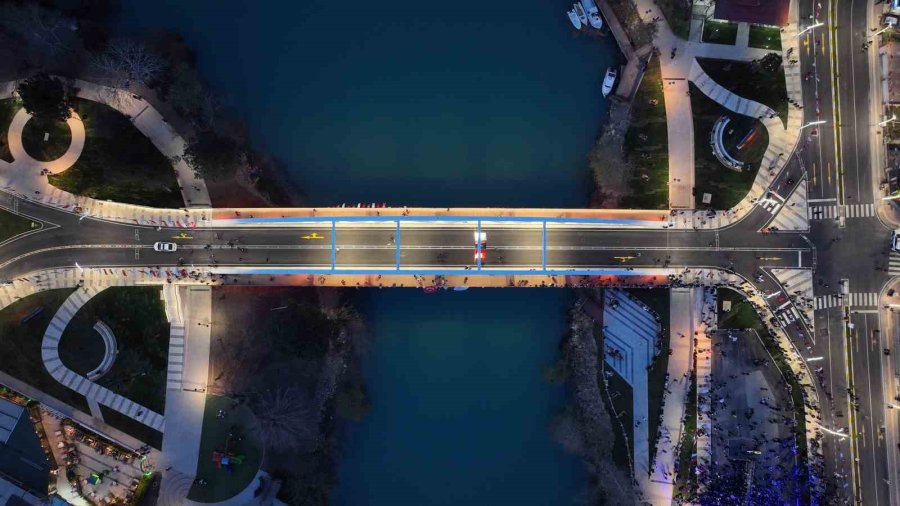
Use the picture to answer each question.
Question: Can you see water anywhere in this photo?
Yes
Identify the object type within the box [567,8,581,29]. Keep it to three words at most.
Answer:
boat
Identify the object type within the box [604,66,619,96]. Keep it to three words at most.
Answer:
boat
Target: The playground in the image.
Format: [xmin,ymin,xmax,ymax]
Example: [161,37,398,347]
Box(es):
[185,394,265,503]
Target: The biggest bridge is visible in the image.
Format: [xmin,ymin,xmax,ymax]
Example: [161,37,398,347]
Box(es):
[211,207,670,288]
